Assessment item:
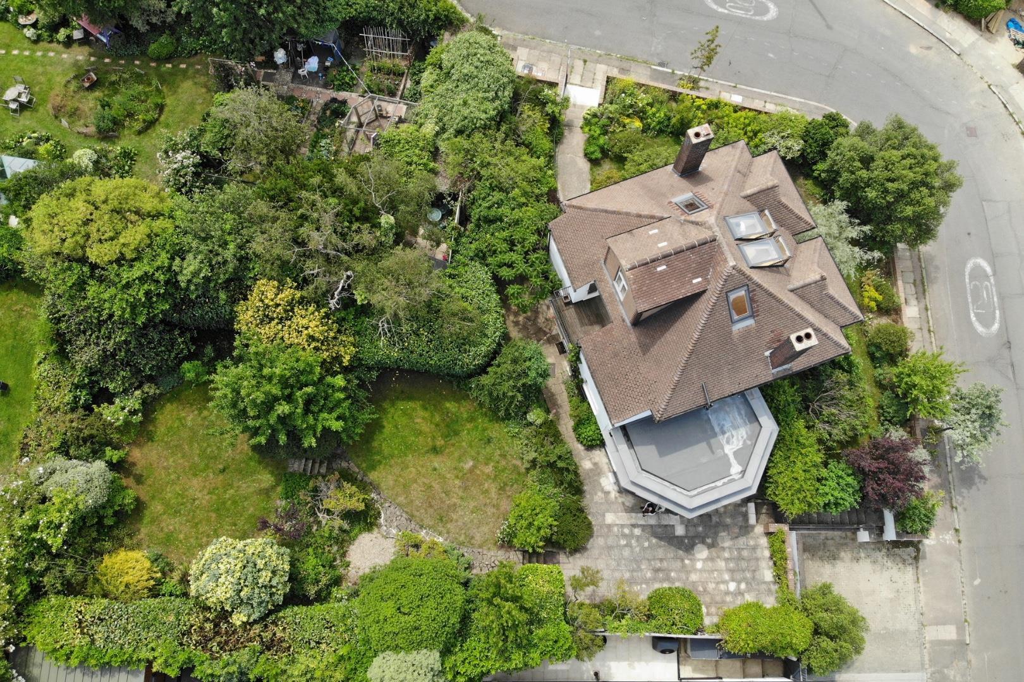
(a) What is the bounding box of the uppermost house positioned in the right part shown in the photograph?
[545,120,866,519]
